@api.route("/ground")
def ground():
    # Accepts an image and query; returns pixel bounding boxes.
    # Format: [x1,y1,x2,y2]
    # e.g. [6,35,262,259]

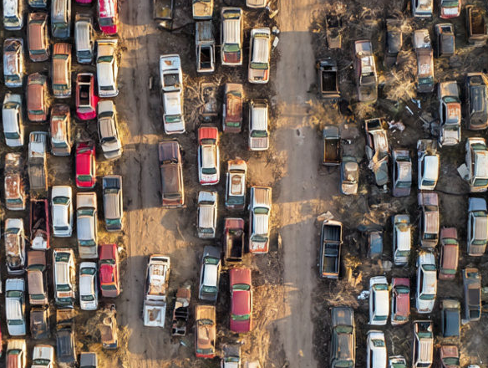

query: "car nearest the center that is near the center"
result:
[226,160,247,210]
